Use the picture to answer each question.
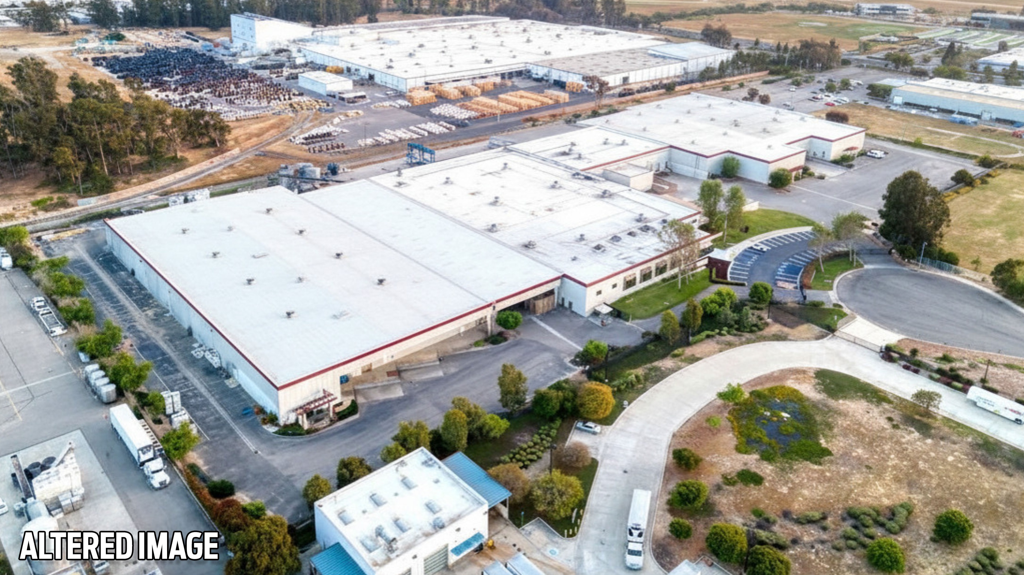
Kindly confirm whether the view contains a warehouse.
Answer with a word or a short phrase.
Yes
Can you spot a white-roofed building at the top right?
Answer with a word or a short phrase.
Yes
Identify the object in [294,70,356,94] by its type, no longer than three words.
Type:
shed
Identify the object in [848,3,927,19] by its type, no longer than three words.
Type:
building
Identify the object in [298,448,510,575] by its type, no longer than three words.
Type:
building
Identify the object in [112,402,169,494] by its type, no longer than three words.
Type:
truck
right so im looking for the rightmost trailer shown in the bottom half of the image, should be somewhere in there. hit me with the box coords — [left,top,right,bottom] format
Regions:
[962,388,1024,432]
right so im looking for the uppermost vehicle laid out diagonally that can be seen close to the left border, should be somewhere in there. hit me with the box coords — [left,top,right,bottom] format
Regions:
[30,292,67,337]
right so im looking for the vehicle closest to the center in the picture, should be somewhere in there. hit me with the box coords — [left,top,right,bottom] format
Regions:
[572,417,605,434]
